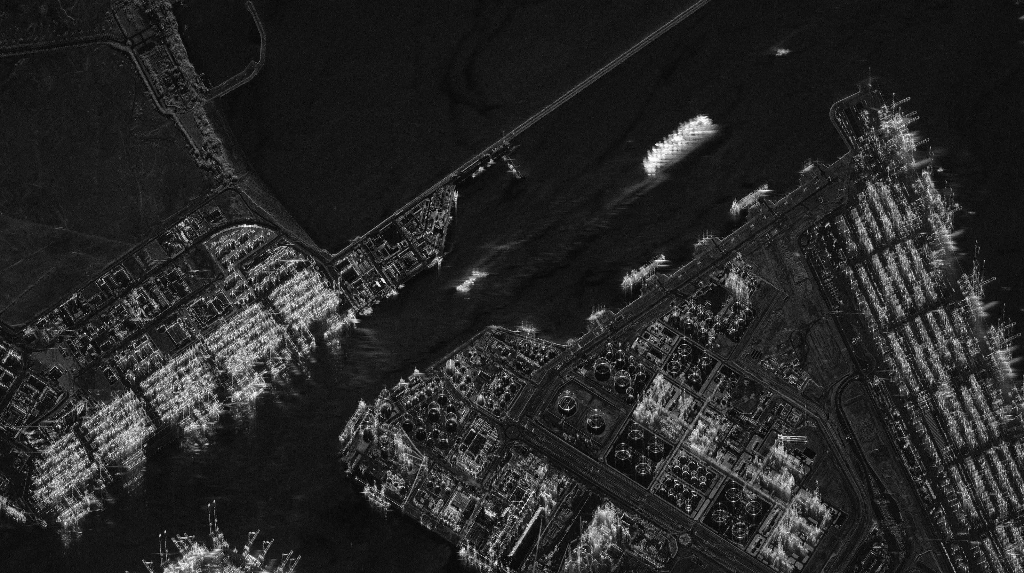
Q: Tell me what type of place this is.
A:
port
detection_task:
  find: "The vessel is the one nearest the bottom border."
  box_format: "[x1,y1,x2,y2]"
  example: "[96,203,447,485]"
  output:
[462,549,494,573]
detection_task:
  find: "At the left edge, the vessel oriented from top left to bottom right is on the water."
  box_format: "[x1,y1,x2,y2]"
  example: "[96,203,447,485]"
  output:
[0,502,26,524]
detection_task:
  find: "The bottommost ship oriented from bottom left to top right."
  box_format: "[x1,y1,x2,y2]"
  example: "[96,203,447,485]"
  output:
[54,500,102,534]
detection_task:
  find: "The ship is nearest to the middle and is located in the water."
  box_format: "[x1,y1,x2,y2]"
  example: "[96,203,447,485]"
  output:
[459,273,486,292]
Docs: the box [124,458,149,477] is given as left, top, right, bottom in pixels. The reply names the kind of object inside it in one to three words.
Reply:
ship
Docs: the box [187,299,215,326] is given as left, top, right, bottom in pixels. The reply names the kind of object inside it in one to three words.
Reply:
building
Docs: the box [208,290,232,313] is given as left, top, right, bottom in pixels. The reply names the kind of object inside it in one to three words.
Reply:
building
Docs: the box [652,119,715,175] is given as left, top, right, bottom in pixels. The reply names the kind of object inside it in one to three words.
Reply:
ship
